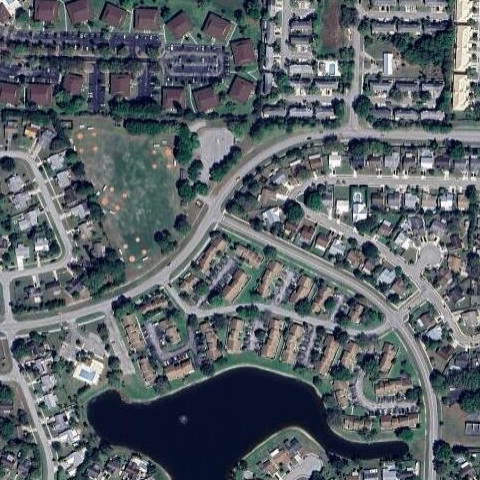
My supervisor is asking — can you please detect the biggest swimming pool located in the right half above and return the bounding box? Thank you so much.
[318,60,340,76]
